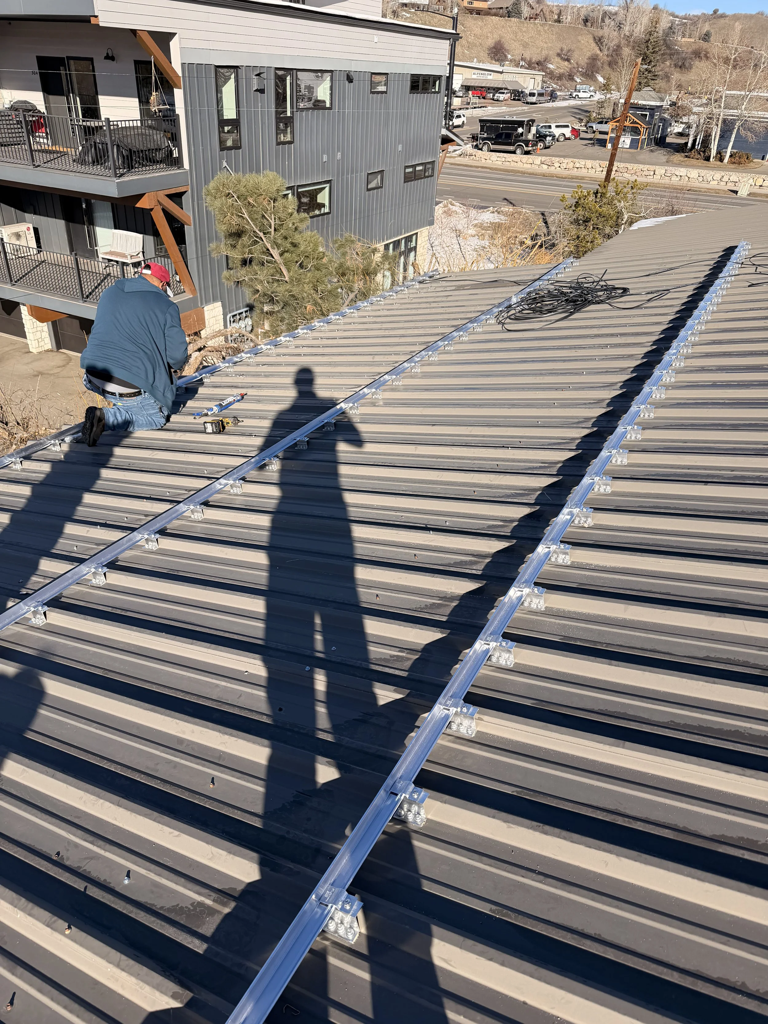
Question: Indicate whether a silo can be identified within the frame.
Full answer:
No, no silo can be seen from above.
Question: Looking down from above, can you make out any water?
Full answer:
No, there is no water in the image.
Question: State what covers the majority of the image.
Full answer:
The largest share of the image is taken up by buildings.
